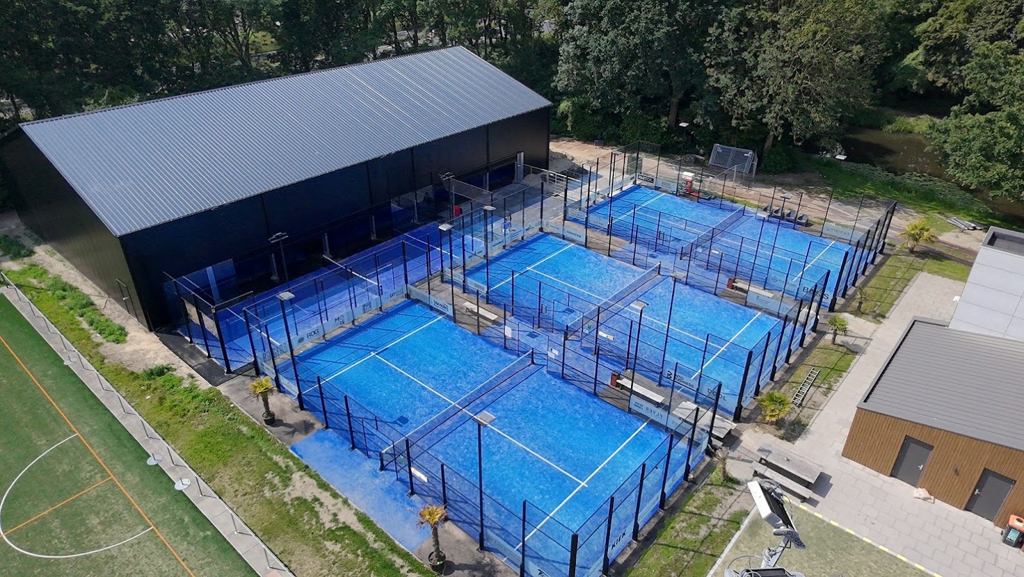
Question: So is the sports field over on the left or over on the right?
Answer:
left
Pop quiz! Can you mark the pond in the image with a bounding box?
[770,73,1024,223]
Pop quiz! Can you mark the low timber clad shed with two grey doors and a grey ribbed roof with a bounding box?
[841,316,1024,536]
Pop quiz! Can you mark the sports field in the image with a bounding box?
[0,290,249,577]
